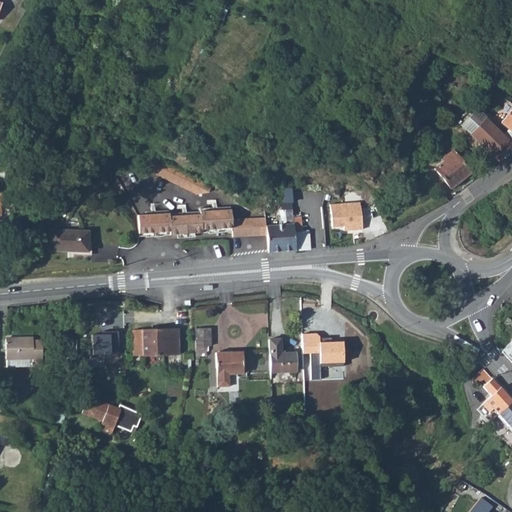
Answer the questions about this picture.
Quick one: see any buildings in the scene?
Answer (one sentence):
Yes, this view includes a building.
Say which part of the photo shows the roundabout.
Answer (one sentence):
Look in the right portion of the view to spot the roundabout.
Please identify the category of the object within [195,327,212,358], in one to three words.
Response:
shed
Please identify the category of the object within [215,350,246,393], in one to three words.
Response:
house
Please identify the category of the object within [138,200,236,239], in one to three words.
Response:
building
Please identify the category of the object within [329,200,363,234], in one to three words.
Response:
house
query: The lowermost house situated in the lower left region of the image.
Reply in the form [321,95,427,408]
[82,404,141,434]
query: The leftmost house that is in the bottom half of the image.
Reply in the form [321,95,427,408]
[5,336,43,369]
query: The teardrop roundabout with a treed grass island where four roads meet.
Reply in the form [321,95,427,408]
[372,243,512,341]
